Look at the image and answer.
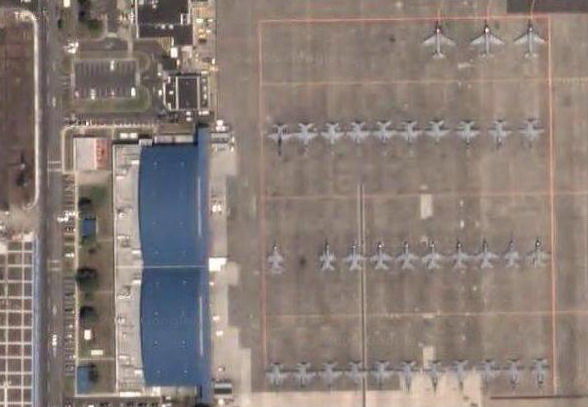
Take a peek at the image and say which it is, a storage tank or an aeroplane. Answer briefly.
aeroplane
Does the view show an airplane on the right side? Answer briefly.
Yes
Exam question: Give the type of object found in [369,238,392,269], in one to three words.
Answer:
airplane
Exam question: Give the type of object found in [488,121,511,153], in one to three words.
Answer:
airplane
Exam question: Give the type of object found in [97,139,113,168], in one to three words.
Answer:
building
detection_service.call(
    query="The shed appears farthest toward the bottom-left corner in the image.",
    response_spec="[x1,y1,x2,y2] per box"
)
[78,366,93,392]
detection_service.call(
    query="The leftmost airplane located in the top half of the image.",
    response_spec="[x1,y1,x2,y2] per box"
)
[269,123,291,154]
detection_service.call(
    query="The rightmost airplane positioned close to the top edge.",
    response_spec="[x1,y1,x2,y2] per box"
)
[514,20,546,56]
